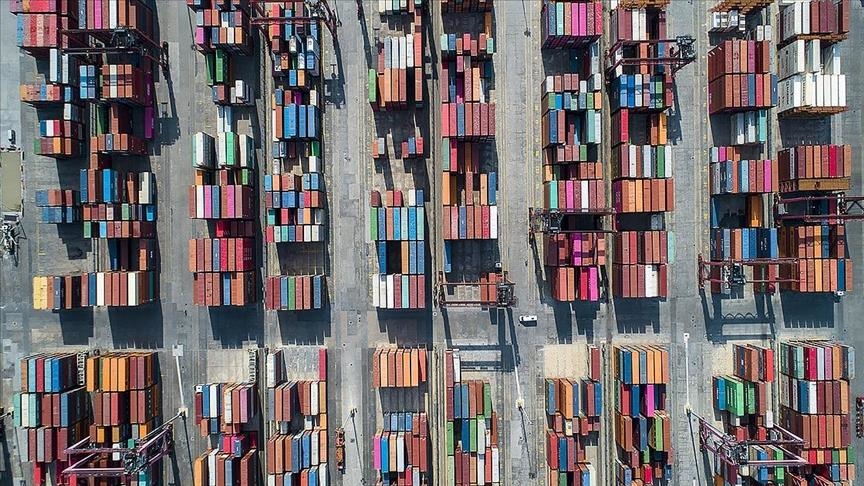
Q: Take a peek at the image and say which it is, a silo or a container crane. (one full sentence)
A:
I can see a container crane in this picture.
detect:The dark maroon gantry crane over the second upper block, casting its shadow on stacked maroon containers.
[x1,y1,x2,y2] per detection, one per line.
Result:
[59,25,167,70]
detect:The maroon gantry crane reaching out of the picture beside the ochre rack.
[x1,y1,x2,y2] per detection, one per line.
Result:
[778,195,864,224]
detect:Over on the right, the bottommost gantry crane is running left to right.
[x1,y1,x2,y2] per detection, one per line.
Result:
[701,421,807,467]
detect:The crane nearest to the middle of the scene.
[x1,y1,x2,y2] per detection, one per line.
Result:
[437,274,517,308]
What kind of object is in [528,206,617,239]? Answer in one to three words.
container crane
